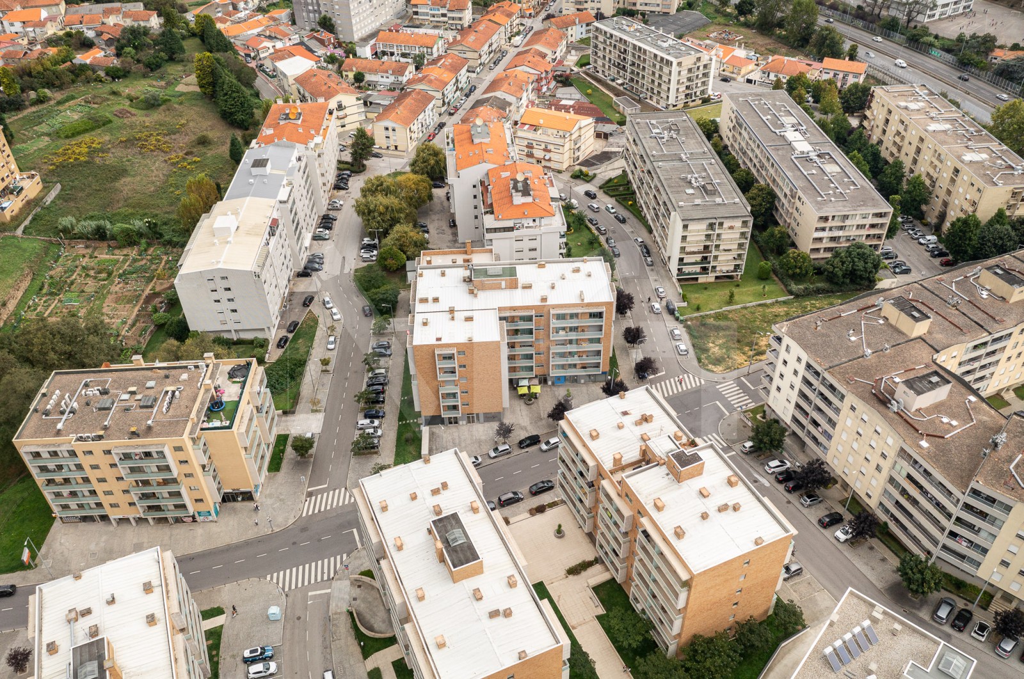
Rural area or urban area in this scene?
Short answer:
urban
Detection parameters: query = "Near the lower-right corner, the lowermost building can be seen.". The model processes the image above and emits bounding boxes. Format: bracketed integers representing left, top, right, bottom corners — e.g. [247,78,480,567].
[793,588,976,679]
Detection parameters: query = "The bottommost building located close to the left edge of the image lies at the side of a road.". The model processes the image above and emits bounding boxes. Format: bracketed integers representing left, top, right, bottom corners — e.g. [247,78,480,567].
[21,545,210,679]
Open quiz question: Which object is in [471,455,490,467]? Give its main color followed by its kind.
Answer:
gray vehicle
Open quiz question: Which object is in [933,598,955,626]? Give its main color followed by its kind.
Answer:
gray car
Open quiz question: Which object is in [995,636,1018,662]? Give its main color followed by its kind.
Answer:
gray car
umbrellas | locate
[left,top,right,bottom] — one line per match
[519,379,529,387]
[529,379,539,386]
[518,387,528,400]
[531,386,541,399]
